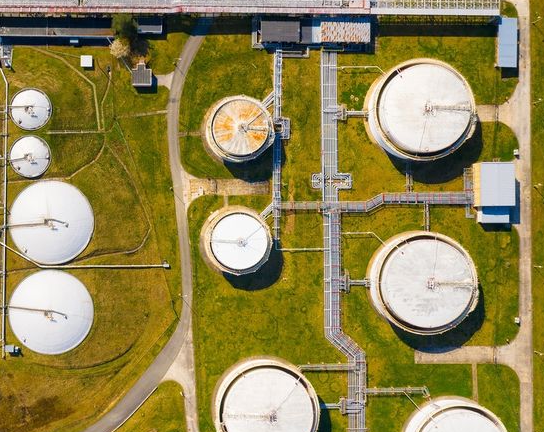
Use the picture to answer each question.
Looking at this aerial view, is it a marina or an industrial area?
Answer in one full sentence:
What you see here is an industrial area.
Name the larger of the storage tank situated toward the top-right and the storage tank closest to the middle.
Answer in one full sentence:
The storage tank situated toward the top-right covers a greater area than the storage tank closest to the middle.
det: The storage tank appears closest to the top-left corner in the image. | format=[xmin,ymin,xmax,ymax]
[10,88,52,131]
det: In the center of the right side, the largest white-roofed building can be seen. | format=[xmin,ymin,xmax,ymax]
[472,162,516,207]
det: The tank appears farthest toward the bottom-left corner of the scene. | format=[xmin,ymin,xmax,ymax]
[8,269,94,355]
